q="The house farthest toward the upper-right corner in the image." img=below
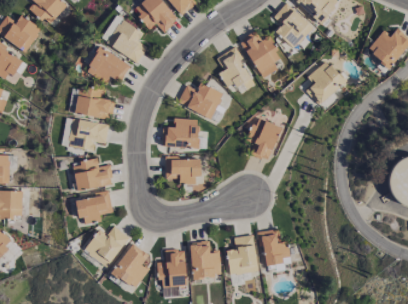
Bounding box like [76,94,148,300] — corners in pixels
[371,30,408,74]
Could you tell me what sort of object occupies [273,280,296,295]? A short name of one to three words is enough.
swimming pool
